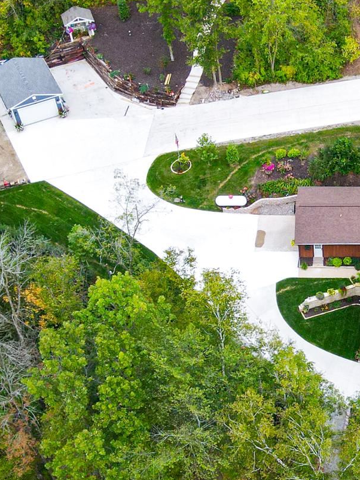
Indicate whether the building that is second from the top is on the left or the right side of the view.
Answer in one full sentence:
The building that is second from the top appears in the left half of the scene.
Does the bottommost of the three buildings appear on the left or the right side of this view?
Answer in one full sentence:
The bottommost of the three buildings sits on the right side.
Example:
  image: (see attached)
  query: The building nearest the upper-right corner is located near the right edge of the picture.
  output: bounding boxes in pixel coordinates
[294,187,360,266]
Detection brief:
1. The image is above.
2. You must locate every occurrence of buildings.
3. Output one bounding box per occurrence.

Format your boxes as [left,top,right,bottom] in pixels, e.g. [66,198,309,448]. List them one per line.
[59,2,94,41]
[294,187,360,266]
[0,57,65,127]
